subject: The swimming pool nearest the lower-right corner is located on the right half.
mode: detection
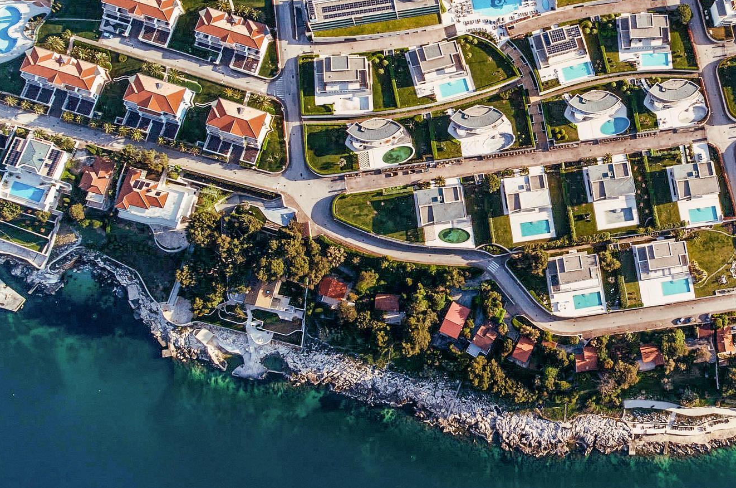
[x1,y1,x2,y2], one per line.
[660,273,690,293]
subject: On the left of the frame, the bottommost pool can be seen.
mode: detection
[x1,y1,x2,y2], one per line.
[8,179,46,205]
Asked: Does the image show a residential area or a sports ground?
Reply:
residential area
